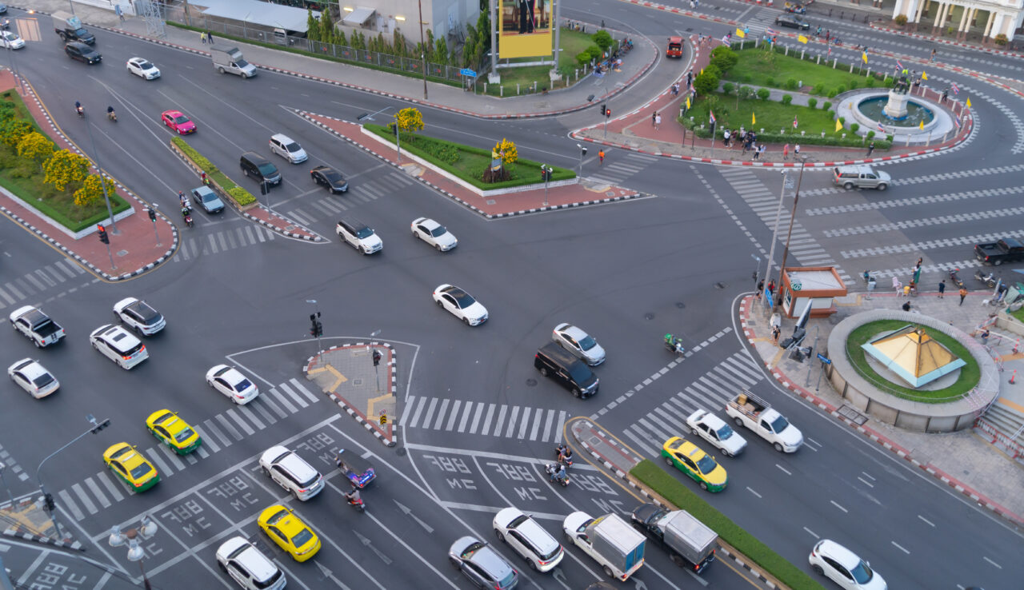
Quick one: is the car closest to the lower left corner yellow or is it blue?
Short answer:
yellow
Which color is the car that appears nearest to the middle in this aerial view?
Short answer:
white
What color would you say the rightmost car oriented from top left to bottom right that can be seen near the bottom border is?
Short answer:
white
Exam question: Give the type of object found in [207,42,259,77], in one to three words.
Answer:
truck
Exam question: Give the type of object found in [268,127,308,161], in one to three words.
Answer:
vehicle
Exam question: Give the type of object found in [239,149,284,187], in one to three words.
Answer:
van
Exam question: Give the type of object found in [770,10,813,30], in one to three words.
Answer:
car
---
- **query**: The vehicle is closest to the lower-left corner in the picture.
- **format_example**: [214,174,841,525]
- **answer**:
[102,440,160,489]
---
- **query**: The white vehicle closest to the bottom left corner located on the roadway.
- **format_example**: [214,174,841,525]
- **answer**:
[5,356,58,395]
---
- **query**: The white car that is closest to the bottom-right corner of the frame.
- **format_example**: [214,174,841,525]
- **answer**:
[808,535,882,590]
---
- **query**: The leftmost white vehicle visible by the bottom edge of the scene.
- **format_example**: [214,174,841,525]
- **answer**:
[214,533,282,590]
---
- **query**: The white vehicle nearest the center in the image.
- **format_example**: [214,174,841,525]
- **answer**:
[433,284,488,325]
